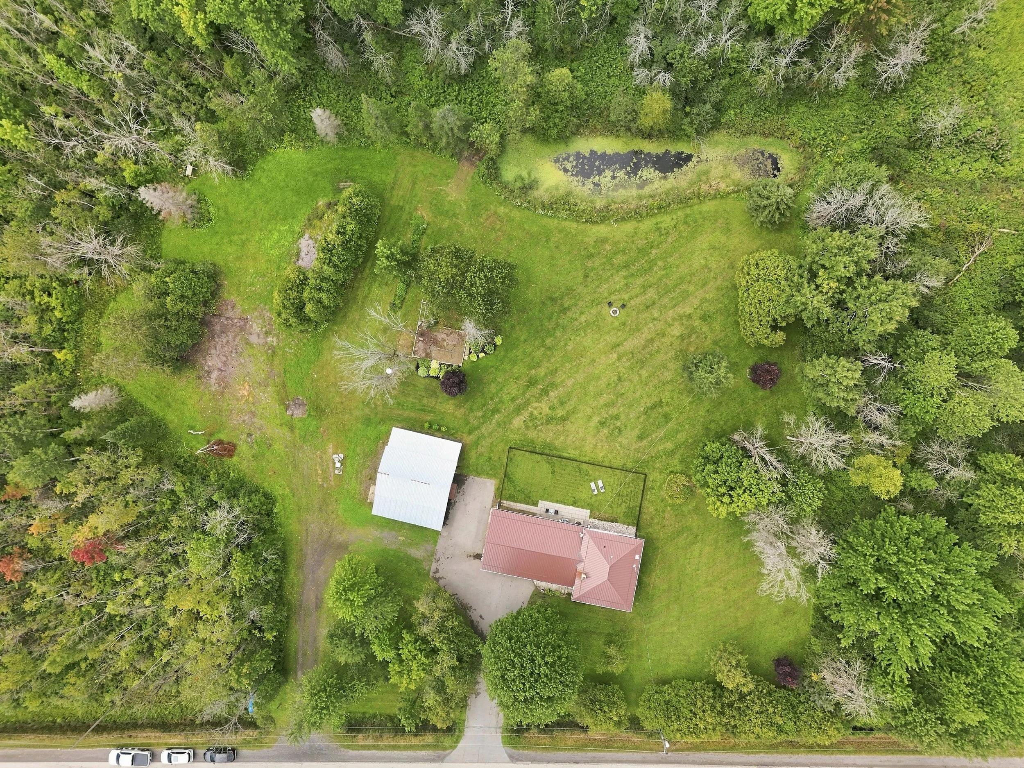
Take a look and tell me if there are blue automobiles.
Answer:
No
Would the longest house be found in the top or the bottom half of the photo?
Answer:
bottom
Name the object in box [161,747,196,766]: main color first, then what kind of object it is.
white car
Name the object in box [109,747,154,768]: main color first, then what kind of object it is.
white truck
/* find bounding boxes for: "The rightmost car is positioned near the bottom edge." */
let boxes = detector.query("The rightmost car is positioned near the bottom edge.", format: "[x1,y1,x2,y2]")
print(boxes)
[204,746,237,765]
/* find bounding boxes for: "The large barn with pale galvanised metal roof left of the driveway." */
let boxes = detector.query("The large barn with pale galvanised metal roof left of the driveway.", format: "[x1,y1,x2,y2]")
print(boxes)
[372,427,462,531]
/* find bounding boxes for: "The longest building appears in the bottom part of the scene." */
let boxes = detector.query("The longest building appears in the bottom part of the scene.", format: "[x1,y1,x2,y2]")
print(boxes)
[480,501,645,612]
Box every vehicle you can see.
[161,747,196,766]
[109,747,154,768]
[204,746,237,765]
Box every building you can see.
[480,501,645,612]
[372,427,462,531]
